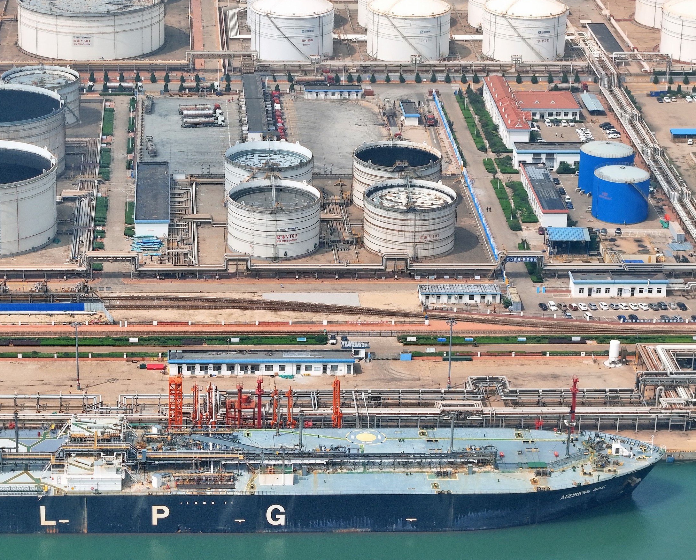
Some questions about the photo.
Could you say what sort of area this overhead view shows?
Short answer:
industrial area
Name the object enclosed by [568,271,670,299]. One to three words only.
building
